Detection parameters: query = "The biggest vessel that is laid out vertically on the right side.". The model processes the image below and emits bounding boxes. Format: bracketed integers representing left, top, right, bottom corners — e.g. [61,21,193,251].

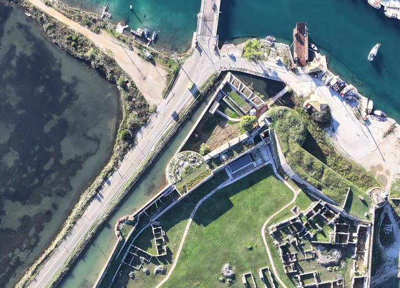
[293,23,308,67]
